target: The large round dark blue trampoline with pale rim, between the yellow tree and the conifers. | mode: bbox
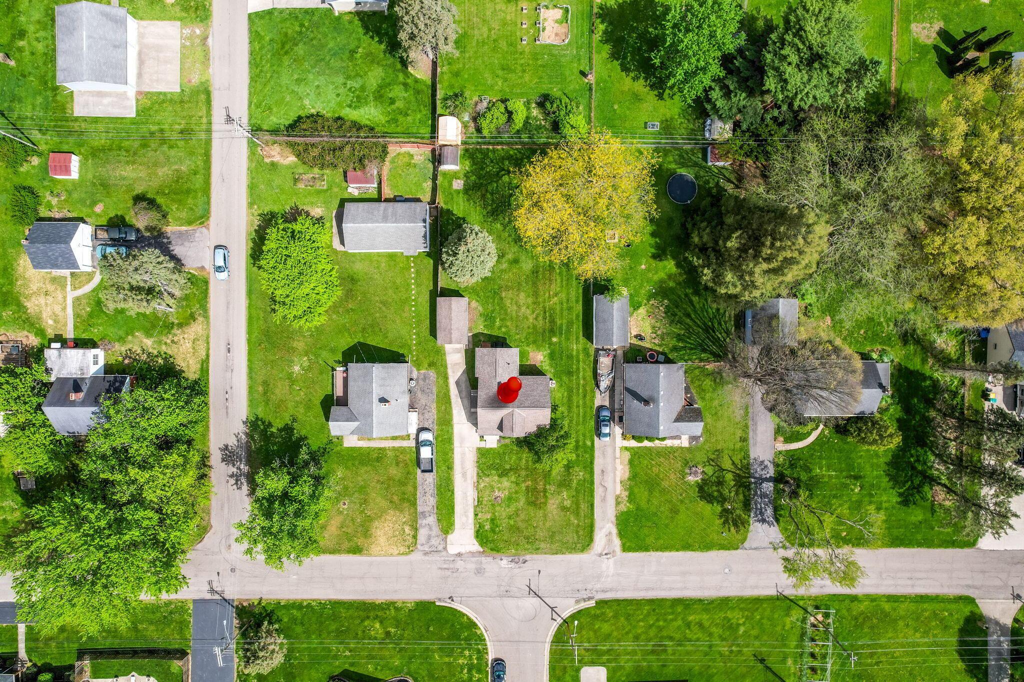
[666,174,697,204]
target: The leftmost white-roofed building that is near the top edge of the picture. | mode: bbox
[53,1,137,93]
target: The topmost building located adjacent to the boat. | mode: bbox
[593,294,629,346]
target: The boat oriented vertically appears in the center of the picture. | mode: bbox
[598,347,614,394]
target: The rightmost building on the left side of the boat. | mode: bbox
[471,348,552,439]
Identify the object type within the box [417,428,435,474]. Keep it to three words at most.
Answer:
vehicle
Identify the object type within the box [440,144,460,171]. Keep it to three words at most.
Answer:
shed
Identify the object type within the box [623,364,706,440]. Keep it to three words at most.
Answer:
house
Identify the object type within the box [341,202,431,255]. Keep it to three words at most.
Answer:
building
